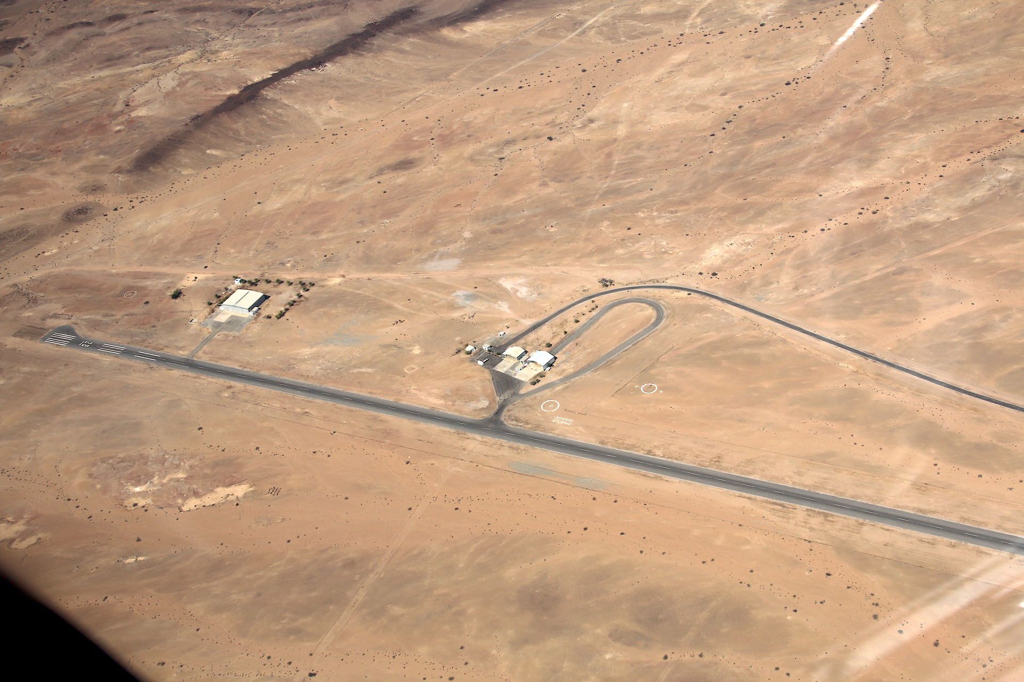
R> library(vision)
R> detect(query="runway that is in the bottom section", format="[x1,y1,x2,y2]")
[43,330,1024,555]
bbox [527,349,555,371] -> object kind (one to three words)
hangar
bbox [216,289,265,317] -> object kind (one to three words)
hangar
